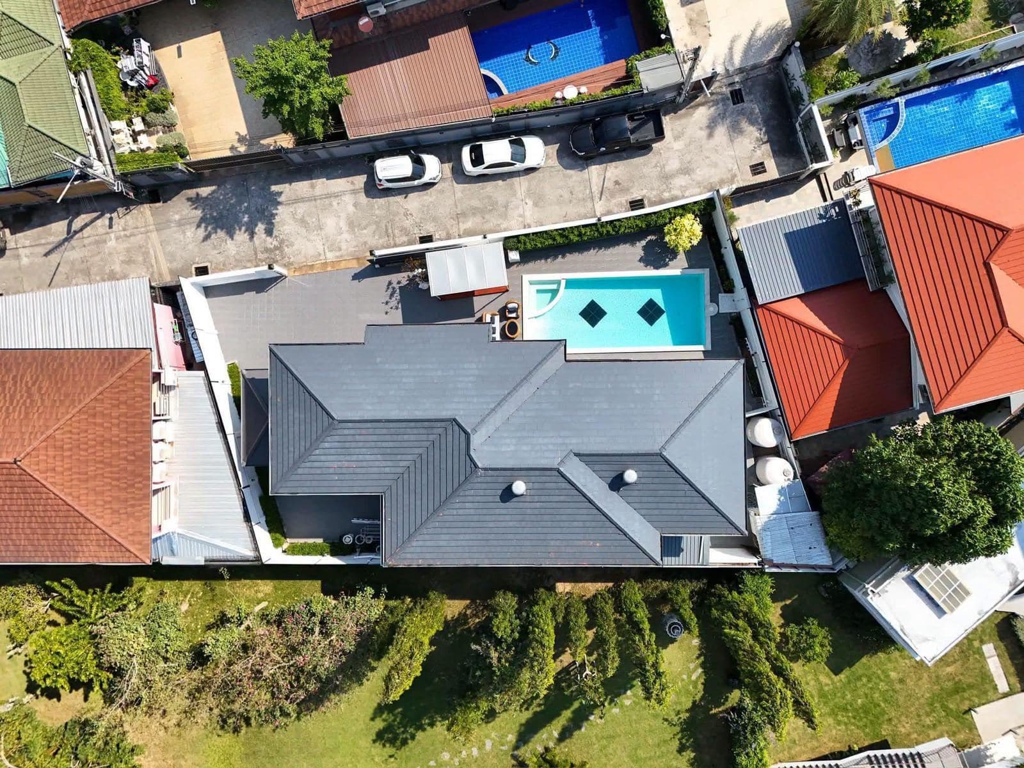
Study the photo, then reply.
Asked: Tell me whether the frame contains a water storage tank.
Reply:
Yes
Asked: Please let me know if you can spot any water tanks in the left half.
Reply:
No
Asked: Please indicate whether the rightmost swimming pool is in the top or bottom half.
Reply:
top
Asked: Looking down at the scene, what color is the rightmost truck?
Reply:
black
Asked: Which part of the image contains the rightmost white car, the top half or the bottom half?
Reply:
top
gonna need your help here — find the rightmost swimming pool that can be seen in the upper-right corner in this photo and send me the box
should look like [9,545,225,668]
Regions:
[857,55,1024,175]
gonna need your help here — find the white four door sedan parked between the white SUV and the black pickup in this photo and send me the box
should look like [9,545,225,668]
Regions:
[461,134,544,179]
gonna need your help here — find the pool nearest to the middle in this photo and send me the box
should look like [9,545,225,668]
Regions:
[523,268,711,353]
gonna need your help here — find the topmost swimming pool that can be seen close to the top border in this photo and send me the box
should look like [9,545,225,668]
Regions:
[473,0,647,102]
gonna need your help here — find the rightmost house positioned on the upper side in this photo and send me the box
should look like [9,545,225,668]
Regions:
[836,135,1024,414]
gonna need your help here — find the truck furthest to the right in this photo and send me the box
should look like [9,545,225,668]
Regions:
[569,111,665,158]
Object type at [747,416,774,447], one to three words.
water tank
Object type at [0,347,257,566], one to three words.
house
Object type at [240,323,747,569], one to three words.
house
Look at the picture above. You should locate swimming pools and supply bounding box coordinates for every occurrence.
[473,0,647,102]
[523,268,711,353]
[857,55,1024,175]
